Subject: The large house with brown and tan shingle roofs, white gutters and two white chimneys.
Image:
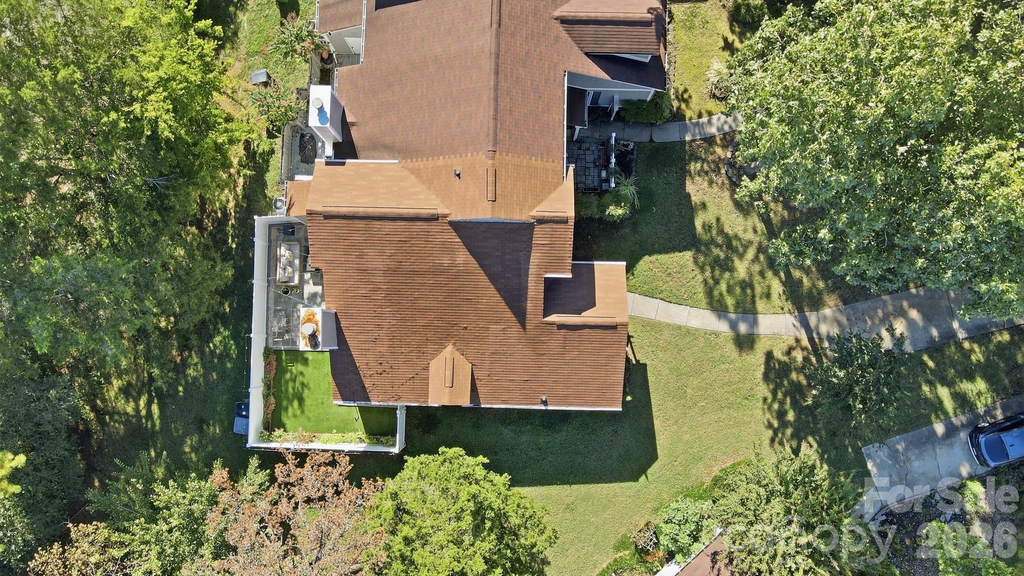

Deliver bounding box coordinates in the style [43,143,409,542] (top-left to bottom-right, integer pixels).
[283,0,668,413]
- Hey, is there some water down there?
No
